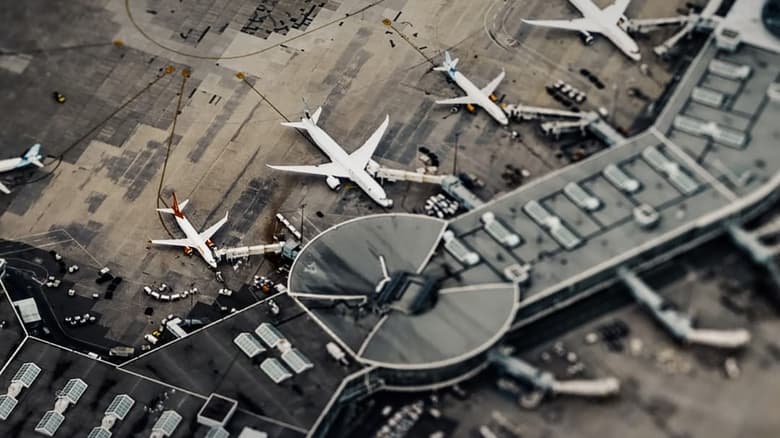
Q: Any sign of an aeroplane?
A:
Yes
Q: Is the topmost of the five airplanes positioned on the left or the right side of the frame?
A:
right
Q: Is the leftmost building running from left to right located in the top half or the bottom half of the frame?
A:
bottom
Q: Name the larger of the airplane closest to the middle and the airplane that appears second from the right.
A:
the airplane closest to the middle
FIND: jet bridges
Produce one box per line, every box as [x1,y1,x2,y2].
[502,104,626,144]
[617,273,752,355]
[485,350,622,404]
[374,169,486,209]
[622,14,719,60]
[723,226,780,271]
[213,243,300,269]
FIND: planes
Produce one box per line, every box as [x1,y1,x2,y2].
[434,55,508,125]
[522,0,642,59]
[0,143,48,192]
[150,199,228,267]
[269,107,393,207]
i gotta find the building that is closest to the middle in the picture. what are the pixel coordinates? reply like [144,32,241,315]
[286,210,519,393]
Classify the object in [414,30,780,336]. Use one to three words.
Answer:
building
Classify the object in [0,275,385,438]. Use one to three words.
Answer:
building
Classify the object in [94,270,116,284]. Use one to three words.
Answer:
vehicle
